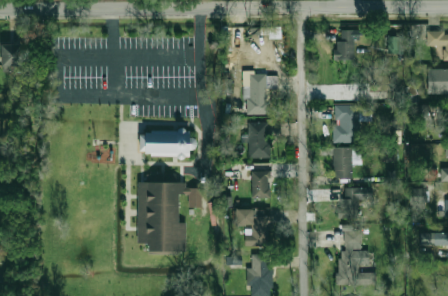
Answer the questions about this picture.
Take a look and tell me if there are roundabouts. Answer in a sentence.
No, I find no roundabout anywhere in the image.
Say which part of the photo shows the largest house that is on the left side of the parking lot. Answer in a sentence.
The largest house that is on the left side of the parking lot appears toward the top left of the photo.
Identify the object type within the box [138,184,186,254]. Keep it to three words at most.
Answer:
building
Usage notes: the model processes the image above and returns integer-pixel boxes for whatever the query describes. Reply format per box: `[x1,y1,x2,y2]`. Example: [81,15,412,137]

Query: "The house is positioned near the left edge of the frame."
[0,45,22,70]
